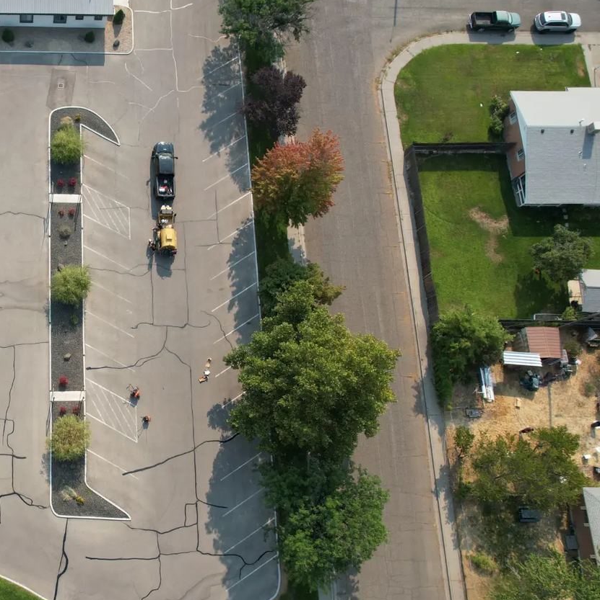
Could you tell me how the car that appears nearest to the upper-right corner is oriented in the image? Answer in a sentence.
In this picture, the car that appears nearest to the upper-right corner lies from left to right.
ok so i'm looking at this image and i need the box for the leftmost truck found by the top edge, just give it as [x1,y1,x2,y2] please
[465,8,520,32]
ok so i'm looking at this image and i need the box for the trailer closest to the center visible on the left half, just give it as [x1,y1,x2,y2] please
[155,201,178,257]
